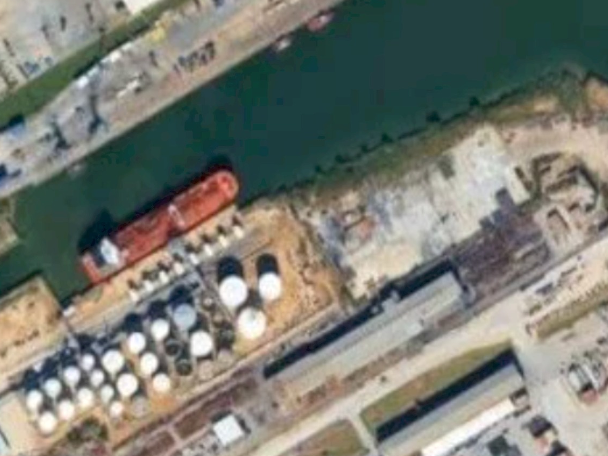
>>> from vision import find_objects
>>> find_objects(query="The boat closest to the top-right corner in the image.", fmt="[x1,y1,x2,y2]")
[306,15,330,32]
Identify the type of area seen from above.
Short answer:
port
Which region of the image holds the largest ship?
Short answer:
left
